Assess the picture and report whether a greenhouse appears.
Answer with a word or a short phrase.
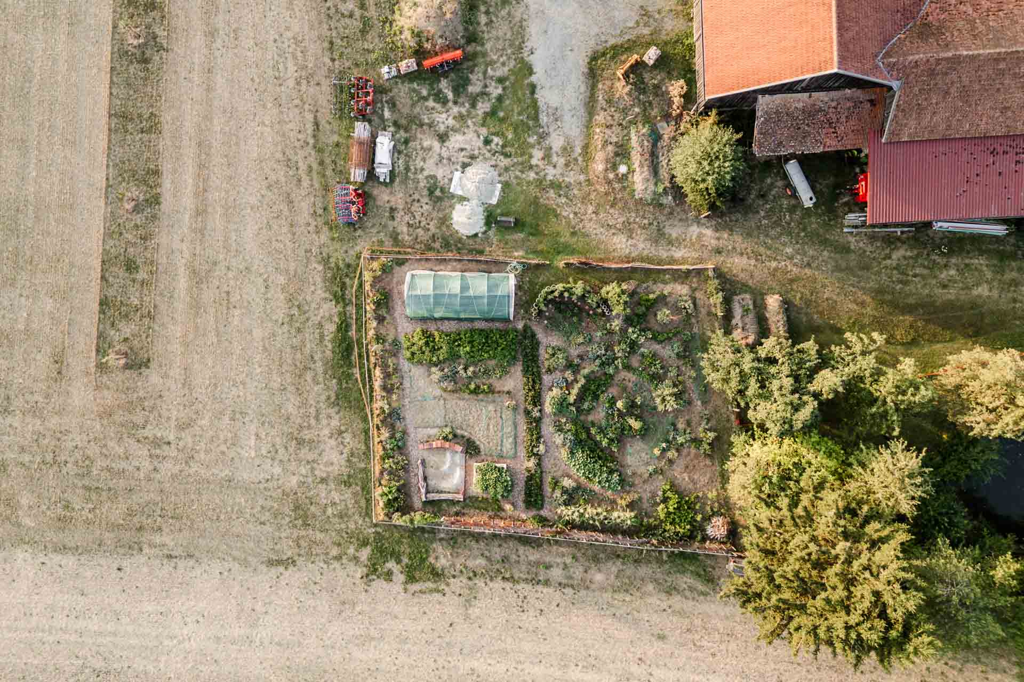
Yes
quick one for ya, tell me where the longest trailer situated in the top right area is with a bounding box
[775,154,817,209]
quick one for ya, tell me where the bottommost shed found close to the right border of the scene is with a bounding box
[851,123,1024,226]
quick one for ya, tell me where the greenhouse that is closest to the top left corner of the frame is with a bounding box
[399,268,516,321]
